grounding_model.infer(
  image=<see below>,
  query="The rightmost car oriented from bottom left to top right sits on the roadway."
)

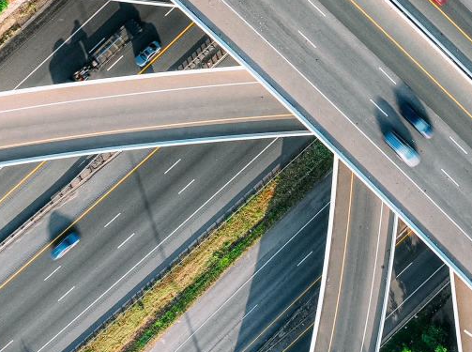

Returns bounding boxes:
[133,38,166,68]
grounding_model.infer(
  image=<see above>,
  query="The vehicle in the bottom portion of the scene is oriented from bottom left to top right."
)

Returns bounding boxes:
[49,230,81,261]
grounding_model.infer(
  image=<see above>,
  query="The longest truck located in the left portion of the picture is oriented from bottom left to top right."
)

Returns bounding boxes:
[61,8,161,85]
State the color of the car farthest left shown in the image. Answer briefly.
blue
